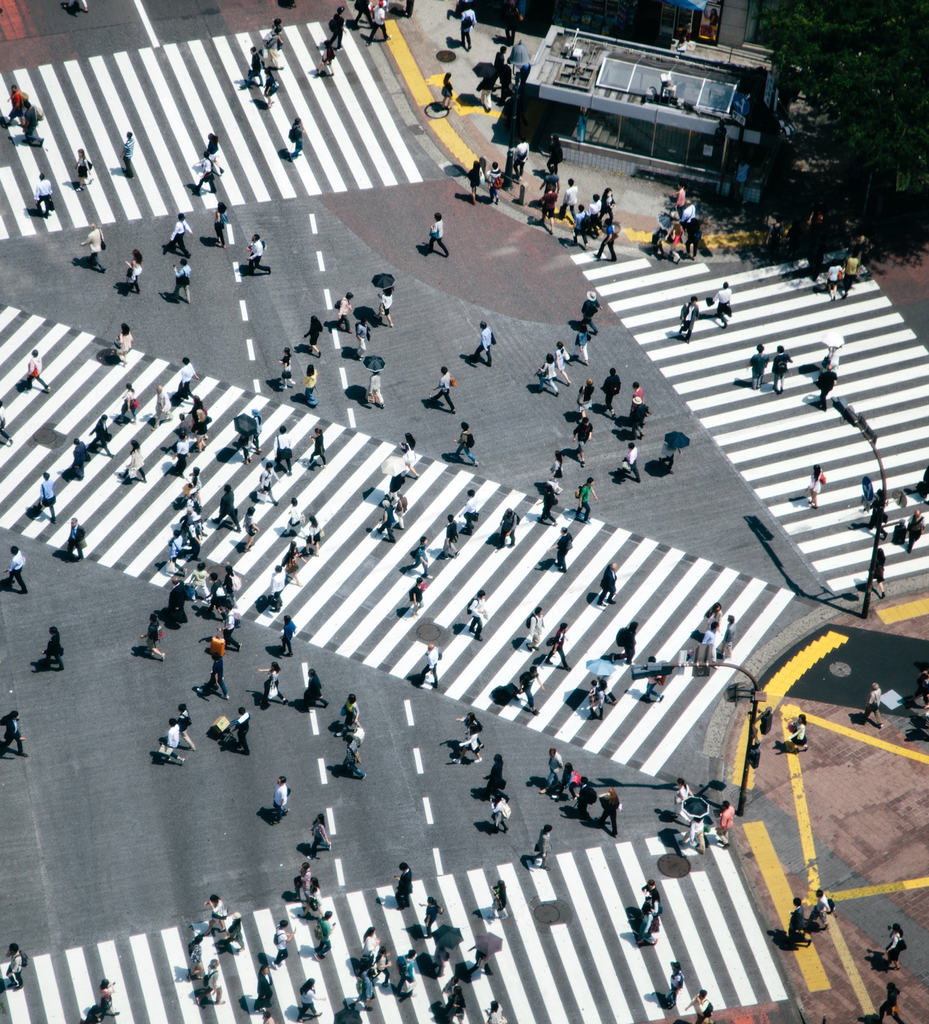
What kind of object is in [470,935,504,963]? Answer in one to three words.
umbrella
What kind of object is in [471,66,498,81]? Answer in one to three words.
umbrella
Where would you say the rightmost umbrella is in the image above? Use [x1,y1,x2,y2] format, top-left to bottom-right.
[821,335,846,351]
